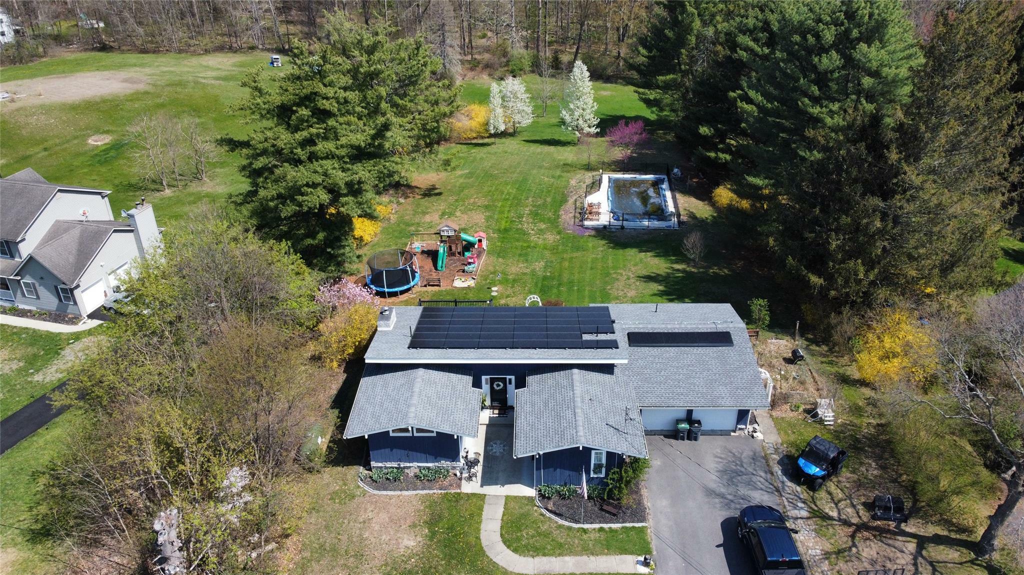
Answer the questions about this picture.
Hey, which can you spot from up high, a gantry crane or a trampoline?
trampoline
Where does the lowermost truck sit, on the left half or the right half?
right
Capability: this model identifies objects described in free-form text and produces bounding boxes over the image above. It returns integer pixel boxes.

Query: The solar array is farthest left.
[408,306,618,350]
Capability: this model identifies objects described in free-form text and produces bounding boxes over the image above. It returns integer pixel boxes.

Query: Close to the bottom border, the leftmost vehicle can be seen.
[734,505,805,575]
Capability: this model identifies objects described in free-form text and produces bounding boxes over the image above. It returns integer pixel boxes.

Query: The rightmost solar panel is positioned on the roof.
[626,329,736,347]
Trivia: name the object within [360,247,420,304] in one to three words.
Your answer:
trampoline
